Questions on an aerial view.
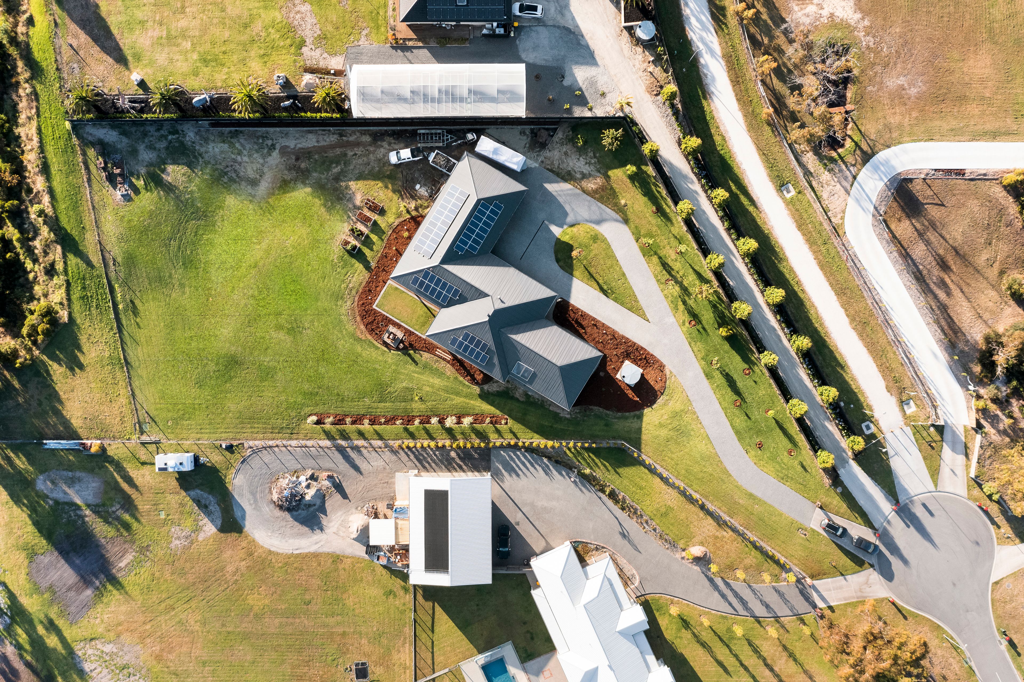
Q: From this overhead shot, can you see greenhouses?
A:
Yes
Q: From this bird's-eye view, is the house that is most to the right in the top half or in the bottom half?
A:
bottom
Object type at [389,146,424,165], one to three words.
vehicle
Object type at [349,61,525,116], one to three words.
greenhouse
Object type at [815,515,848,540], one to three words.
car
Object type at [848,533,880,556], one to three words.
car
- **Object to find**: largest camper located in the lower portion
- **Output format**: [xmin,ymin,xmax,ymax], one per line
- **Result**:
[156,452,210,470]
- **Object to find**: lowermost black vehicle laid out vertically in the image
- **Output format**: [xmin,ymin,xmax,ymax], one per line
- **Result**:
[496,524,512,559]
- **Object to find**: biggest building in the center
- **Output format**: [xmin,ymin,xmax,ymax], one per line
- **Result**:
[390,151,604,411]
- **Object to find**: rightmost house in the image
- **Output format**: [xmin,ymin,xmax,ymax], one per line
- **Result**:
[530,539,677,682]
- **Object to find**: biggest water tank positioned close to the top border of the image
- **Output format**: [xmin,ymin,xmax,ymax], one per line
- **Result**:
[631,20,656,47]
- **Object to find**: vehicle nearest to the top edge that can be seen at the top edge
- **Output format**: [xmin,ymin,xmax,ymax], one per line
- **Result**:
[513,1,544,19]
